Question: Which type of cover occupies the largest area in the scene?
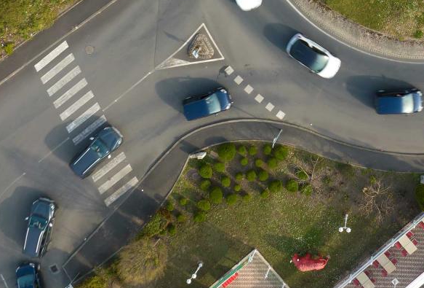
paved ground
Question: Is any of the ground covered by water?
No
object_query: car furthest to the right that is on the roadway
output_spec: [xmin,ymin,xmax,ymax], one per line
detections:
[373,87,424,116]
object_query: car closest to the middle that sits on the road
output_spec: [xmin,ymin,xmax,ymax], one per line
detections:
[180,85,233,124]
